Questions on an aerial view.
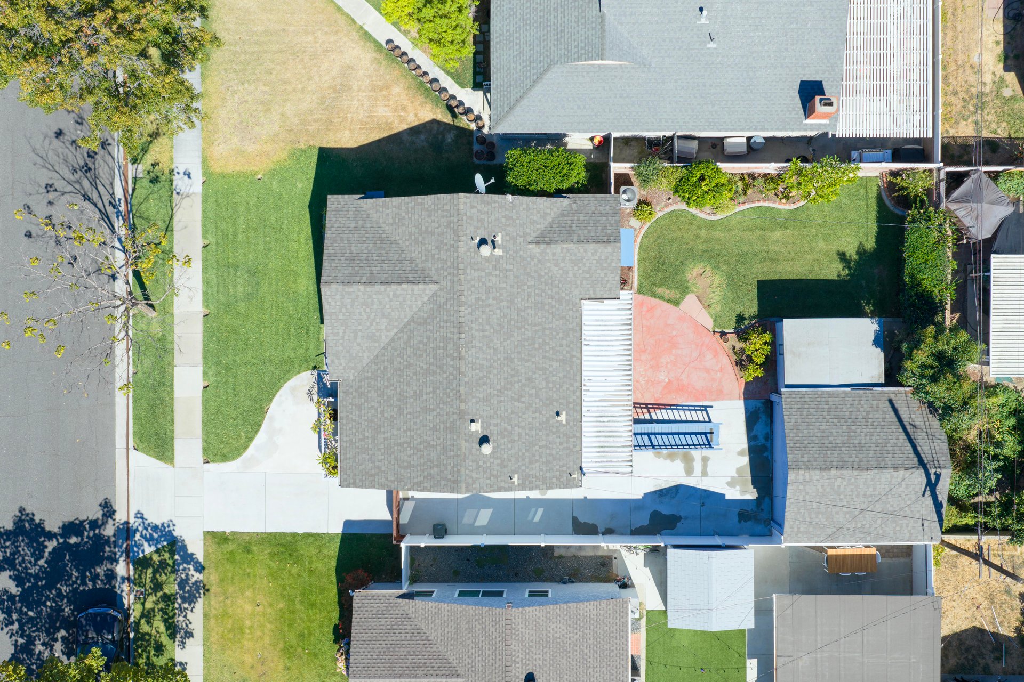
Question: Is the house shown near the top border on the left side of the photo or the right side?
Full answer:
The house shown near the top border sits on the right side.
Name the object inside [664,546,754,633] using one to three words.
shed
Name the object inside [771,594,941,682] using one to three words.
shed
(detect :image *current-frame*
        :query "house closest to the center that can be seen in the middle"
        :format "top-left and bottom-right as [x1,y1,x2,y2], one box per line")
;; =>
[319,192,623,494]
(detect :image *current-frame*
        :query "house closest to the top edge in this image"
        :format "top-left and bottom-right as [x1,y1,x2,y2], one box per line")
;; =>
[489,0,851,150]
